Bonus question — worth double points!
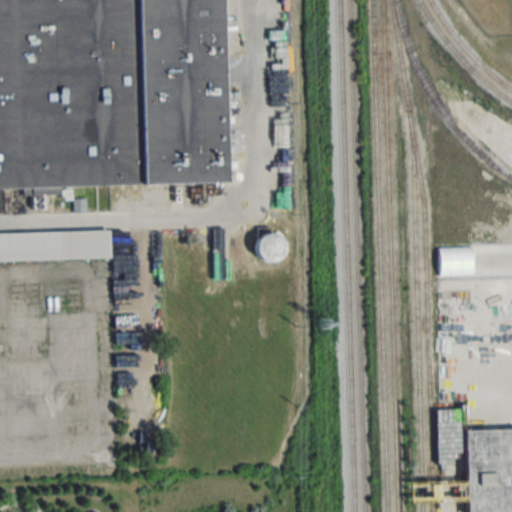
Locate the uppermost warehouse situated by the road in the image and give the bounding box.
[0,0,232,188]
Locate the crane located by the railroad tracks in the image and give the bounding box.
[412,480,468,504]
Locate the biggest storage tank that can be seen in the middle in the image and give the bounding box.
[254,232,288,264]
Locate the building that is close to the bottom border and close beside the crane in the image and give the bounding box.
[462,428,512,512]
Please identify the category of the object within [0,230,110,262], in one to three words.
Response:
shed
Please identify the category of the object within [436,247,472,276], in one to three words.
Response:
building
